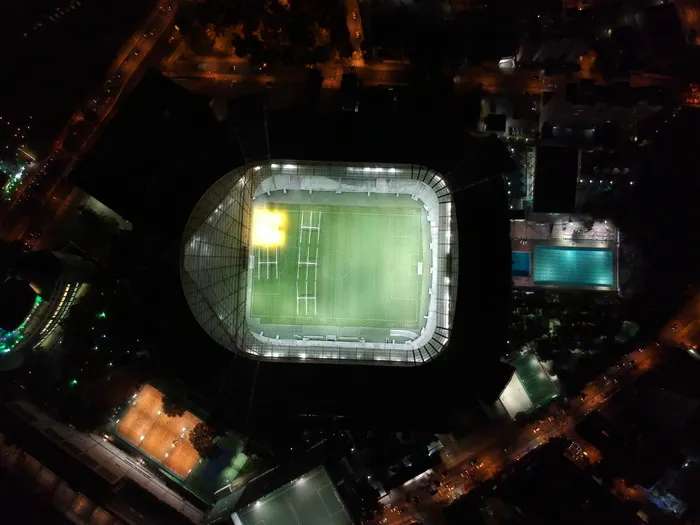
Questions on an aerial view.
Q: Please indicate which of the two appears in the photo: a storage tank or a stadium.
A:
stadium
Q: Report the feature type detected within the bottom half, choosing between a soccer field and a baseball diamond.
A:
soccer field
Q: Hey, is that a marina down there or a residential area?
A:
residential area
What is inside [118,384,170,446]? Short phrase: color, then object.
orange tennis court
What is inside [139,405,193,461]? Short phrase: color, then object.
orange tennis court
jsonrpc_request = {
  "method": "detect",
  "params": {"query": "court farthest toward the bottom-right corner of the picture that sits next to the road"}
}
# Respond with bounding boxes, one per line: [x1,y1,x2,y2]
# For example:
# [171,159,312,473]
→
[642,484,686,518]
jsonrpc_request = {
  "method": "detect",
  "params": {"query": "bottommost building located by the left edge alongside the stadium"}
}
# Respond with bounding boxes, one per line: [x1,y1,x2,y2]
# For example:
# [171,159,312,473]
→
[5,396,206,524]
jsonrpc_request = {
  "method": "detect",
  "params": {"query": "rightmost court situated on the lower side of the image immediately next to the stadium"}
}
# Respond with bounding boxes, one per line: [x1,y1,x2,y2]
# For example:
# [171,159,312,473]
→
[516,354,560,407]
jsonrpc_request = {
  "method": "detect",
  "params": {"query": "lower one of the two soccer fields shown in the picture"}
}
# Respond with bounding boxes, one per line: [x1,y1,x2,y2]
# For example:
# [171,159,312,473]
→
[237,463,353,525]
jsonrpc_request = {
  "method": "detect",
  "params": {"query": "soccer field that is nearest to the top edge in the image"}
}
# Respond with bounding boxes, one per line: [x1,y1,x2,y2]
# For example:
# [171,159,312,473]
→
[248,202,422,327]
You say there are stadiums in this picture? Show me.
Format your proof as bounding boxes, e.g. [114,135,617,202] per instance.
[142,107,516,411]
